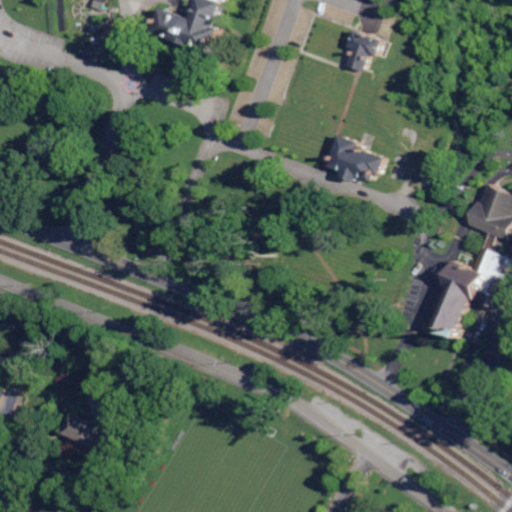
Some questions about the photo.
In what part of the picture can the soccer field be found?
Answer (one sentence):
The soccer field sits in the bottom section of the image.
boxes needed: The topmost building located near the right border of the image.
[468,186,512,236]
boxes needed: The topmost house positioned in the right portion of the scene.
[346,30,396,71]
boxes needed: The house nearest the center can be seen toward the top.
[326,138,391,182]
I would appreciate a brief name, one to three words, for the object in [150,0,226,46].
house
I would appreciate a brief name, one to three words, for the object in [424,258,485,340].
building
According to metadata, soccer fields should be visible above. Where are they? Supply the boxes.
[137,404,324,512]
